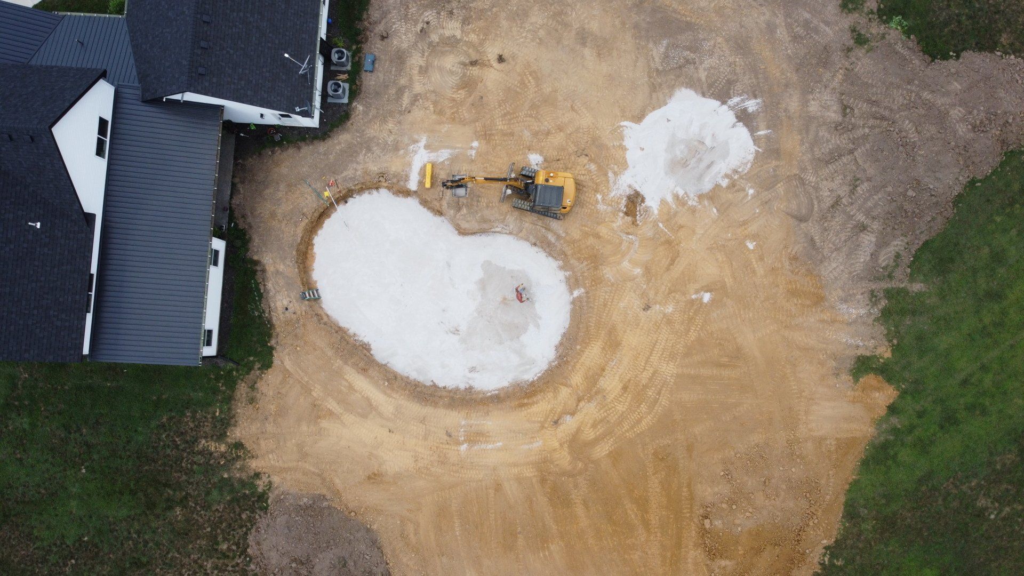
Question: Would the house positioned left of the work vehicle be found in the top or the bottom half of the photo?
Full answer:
The house positioned left of the work vehicle is in the top half of the image.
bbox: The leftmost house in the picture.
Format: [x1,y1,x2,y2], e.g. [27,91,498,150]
[0,0,333,366]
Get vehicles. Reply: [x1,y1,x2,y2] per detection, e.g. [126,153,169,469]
[440,162,576,222]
